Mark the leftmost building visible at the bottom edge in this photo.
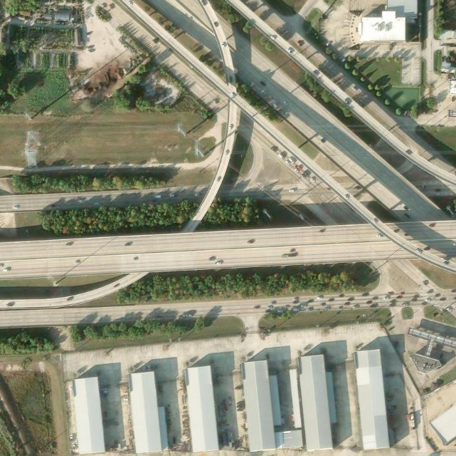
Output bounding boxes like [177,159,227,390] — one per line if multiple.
[75,377,106,455]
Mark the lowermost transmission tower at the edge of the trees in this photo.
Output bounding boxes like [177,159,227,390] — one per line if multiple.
[20,153,37,172]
